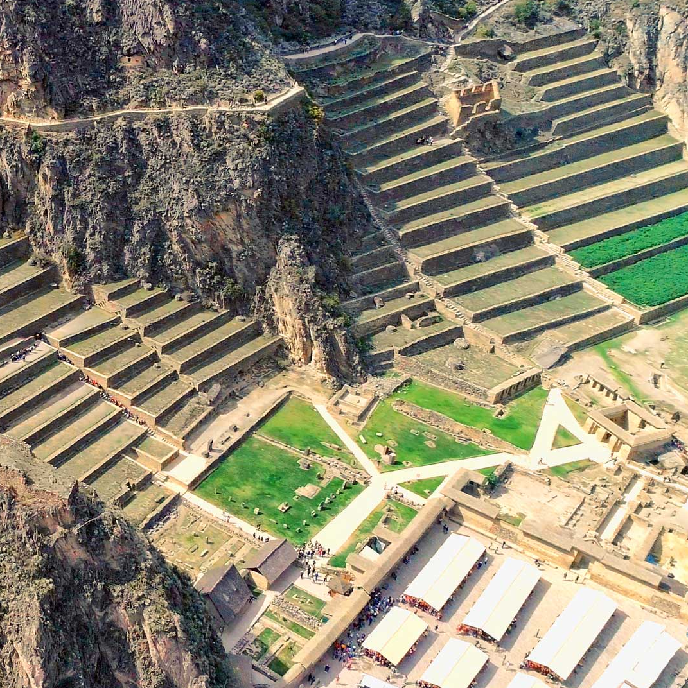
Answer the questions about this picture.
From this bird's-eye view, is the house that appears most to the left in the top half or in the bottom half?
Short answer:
bottom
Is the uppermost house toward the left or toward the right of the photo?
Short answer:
right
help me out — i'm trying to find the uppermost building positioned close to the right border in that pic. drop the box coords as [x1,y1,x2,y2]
[582,401,678,464]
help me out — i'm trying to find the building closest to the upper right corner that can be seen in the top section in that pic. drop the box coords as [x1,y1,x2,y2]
[448,92,502,136]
